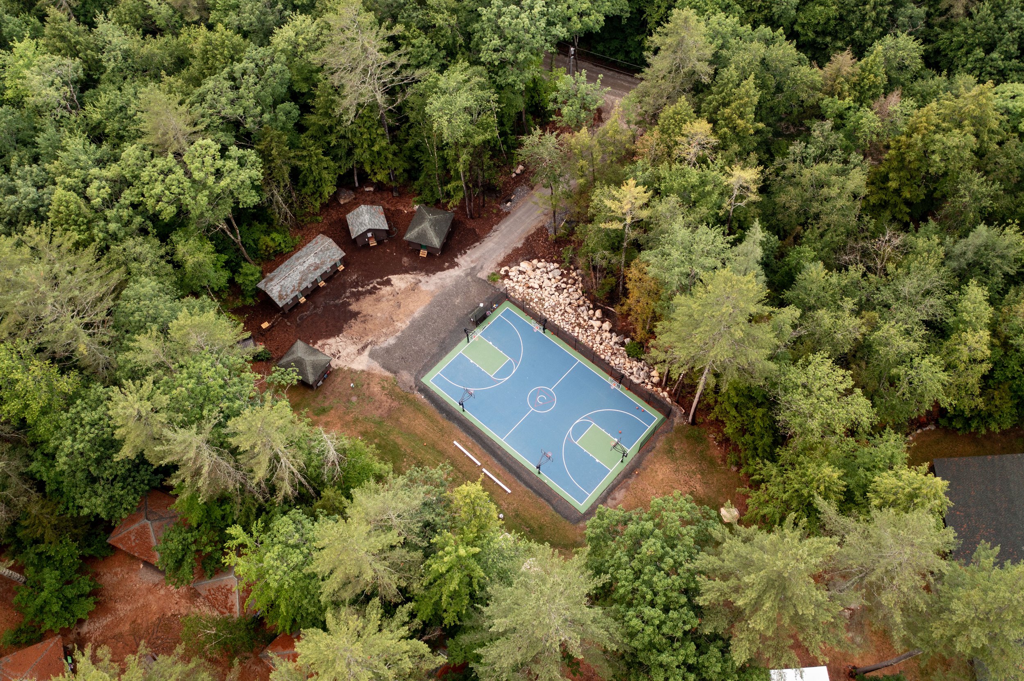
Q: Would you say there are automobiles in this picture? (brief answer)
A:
No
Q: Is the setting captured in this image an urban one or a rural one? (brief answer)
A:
rural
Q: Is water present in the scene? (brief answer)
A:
No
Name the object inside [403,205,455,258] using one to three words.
building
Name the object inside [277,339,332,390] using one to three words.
building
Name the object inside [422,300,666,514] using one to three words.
sports court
